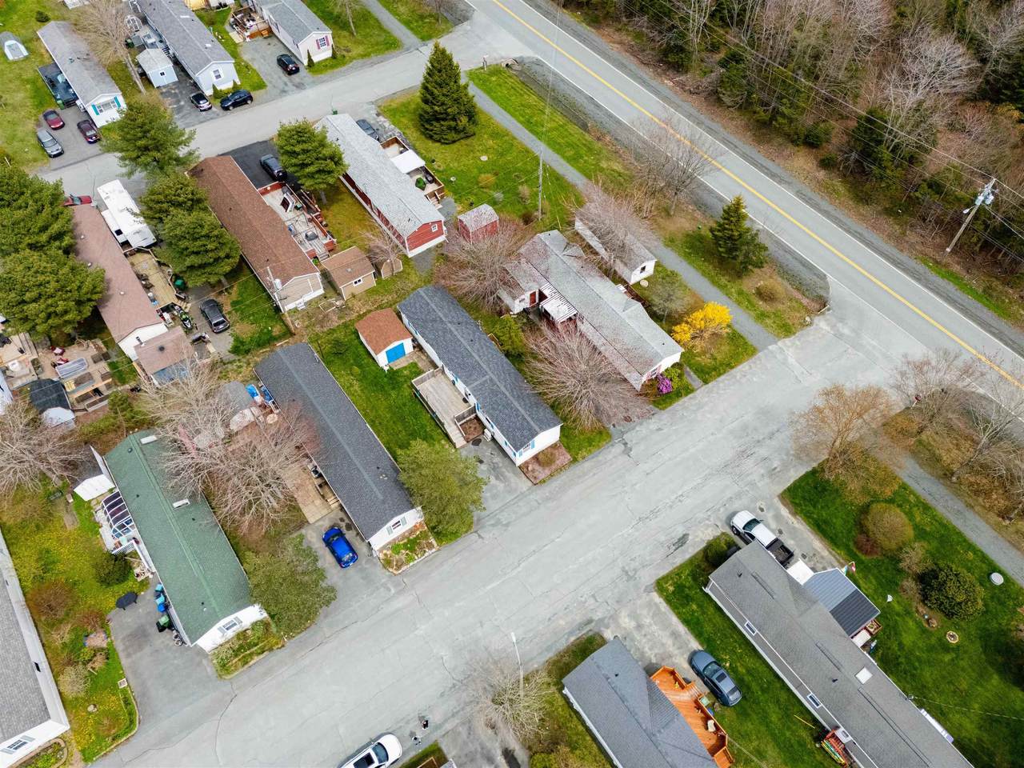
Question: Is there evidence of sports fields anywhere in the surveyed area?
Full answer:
No, there appears to be no sports field in this shot.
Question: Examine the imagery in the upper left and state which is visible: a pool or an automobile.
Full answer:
You can see an automobile in the upper left.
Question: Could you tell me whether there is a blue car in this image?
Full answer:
Yes, there's a blue car down there.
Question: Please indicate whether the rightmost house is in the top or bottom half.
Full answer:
The bottom half of the photo is where the rightmost house is.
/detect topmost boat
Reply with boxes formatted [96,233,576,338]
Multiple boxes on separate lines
[3,34,21,56]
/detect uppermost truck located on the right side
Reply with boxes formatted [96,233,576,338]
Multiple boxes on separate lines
[727,510,799,568]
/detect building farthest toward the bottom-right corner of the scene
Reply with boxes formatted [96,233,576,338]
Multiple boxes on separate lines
[705,540,968,768]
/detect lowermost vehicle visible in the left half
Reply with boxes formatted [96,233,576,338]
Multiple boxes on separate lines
[335,731,401,768]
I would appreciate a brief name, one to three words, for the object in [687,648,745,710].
car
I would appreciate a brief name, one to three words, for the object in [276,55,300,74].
car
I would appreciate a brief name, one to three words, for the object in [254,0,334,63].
house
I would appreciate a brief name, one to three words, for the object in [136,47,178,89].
shed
